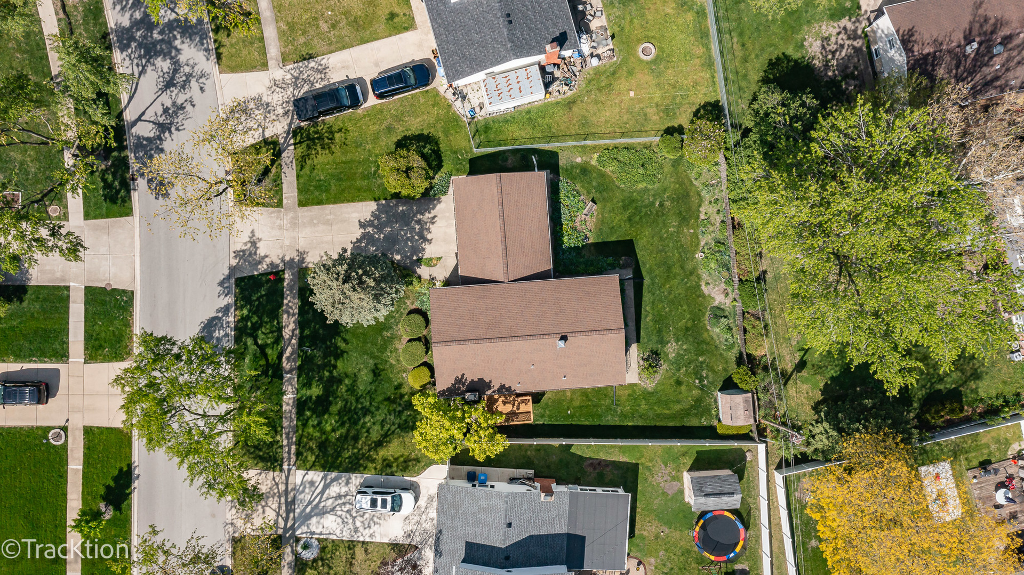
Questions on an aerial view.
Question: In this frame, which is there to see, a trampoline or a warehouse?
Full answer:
The one in the frame is a trampoline.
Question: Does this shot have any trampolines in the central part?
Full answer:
No, I see no trampoline in the central part.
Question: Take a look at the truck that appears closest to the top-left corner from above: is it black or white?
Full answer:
The color of the truck that appears closest to the top-left corner is black.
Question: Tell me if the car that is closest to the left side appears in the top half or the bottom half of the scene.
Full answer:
The bottom half of the photo is where the car that is closest to the left side is.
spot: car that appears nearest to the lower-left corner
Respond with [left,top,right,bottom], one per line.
[0,381,52,408]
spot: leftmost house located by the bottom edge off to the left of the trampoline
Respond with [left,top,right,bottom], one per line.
[432,471,631,575]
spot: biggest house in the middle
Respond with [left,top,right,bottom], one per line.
[429,155,633,405]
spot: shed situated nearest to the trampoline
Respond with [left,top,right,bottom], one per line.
[682,470,742,512]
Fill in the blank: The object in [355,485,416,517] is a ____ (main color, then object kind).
white car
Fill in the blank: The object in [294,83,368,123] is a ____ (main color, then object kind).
black truck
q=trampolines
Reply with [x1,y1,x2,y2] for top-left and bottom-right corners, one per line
[686,509,750,567]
